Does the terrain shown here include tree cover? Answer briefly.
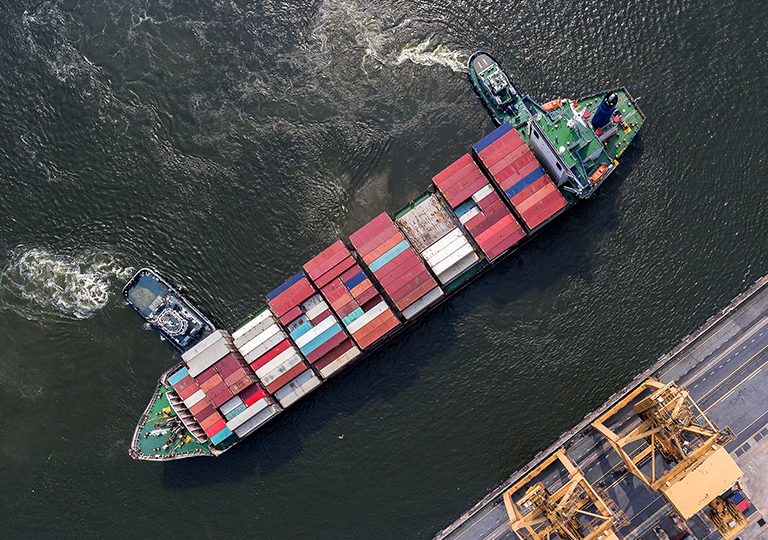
No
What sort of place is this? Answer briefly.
port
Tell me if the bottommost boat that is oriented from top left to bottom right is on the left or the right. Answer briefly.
left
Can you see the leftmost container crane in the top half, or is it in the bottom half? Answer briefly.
bottom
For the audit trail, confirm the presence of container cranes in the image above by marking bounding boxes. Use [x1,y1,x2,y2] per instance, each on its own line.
[590,377,751,540]
[502,447,628,540]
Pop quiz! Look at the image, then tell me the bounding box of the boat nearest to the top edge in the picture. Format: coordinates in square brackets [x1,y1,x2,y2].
[466,48,528,128]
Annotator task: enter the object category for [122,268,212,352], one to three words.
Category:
boat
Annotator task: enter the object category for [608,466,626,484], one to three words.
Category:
work vehicle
